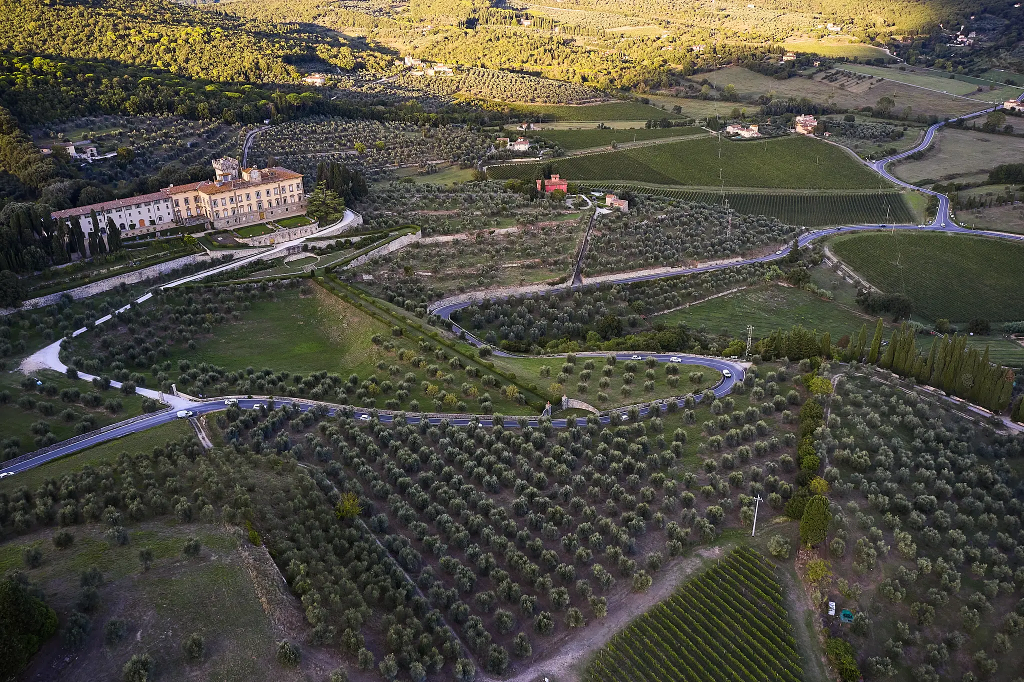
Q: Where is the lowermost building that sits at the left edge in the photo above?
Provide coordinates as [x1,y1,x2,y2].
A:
[45,155,307,248]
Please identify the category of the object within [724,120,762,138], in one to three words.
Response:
house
